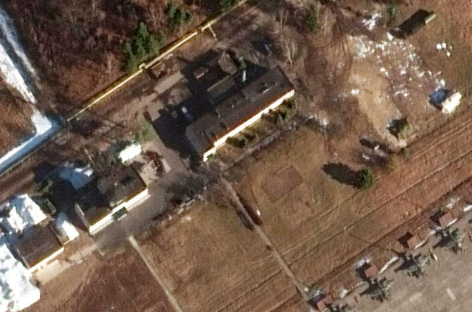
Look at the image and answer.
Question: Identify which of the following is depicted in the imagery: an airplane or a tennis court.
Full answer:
This aerial view contains an airplane.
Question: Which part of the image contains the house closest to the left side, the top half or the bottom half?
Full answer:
The bottom half of the photo is where the house closest to the left side is.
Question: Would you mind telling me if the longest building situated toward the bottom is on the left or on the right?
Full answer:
You can find the longest building situated toward the bottom on the left side of the picture.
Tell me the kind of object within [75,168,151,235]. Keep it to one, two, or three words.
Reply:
building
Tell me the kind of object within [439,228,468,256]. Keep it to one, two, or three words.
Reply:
airplane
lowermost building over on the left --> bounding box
[16,227,65,269]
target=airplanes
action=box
[368,276,396,303]
[402,253,432,281]
[333,301,358,312]
[439,228,468,256]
